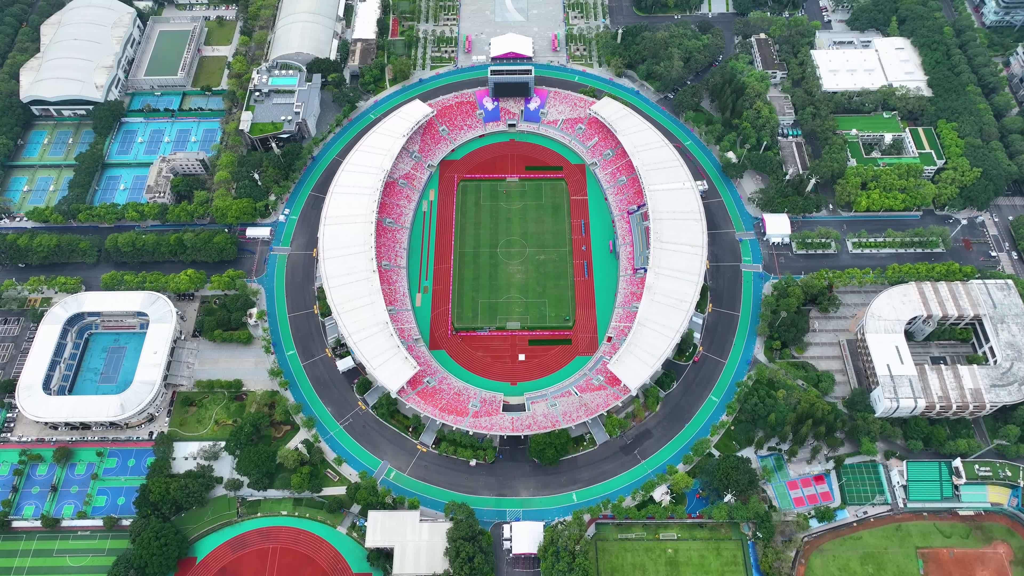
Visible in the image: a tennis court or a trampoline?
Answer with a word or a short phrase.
tennis court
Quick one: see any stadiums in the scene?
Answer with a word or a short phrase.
Yes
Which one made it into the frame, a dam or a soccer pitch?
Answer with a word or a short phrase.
soccer pitch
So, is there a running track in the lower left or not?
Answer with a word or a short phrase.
Yes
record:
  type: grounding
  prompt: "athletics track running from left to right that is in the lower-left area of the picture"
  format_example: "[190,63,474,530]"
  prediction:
[172,517,385,576]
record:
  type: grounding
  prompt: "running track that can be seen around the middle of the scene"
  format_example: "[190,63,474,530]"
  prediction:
[429,138,598,389]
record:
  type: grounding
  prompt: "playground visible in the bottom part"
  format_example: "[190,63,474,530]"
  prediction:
[684,483,724,522]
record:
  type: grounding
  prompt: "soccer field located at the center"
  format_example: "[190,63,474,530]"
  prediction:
[450,177,577,332]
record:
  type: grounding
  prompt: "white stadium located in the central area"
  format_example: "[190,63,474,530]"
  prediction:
[316,83,710,442]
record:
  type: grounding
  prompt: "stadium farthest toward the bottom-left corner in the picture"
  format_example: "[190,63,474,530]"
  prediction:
[16,291,182,427]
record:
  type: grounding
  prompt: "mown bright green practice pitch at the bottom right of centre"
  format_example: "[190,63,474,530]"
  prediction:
[597,540,749,576]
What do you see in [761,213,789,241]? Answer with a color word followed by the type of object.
white tent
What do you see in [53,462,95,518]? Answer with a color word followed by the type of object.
blue basketball court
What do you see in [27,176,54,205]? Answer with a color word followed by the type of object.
blue tennis court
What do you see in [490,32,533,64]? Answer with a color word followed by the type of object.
white tent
